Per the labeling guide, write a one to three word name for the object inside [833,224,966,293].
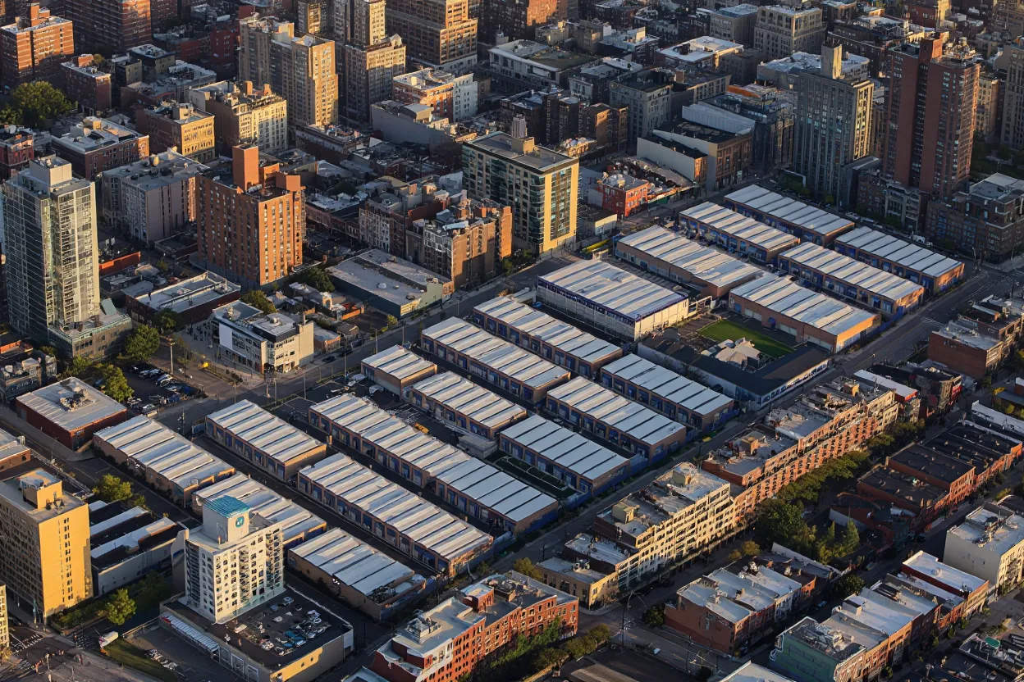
shed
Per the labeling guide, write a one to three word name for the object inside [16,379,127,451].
building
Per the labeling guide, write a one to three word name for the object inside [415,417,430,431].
vehicle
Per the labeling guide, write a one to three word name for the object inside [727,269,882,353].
shed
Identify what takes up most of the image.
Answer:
buildings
